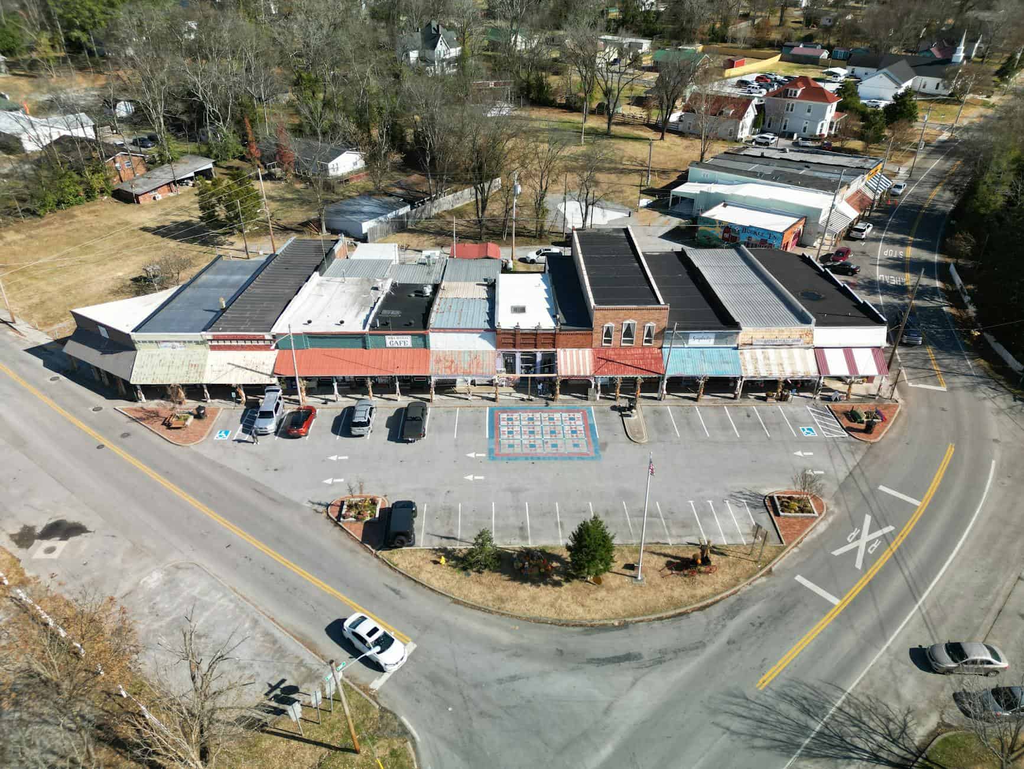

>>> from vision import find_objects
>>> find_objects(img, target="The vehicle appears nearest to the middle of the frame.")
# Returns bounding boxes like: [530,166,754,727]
[402,396,428,436]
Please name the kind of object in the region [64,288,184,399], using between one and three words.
building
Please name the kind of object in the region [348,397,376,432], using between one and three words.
car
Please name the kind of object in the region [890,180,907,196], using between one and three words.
car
